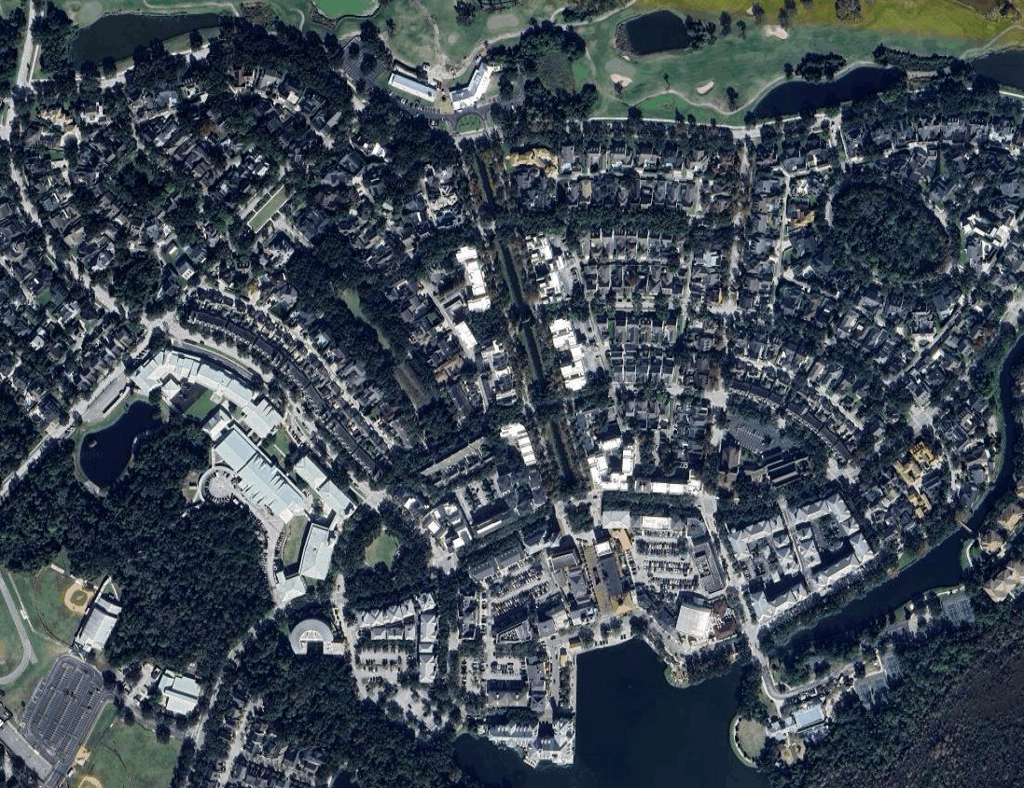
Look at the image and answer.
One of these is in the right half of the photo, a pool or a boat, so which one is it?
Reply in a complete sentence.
The feature located in the right half of the photo is a pool.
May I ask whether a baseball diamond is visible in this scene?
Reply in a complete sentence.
Yes, I can see a baseball diamond in this picture.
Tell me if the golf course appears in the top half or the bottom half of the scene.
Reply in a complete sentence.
The golf course is in the top half of the image.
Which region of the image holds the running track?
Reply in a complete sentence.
The running track sits in the bottom left section of the image.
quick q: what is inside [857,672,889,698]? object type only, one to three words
tennis court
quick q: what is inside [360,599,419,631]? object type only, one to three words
building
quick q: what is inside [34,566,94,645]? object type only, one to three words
baseball field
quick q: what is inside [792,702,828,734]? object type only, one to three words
swimming pool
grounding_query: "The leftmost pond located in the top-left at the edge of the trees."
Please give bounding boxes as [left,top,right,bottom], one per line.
[71,15,218,68]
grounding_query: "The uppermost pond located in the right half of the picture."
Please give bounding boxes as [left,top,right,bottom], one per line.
[629,12,687,52]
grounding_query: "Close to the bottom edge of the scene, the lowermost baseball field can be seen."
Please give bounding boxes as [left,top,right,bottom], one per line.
[75,720,168,788]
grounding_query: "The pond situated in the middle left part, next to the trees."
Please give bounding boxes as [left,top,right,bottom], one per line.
[82,403,160,485]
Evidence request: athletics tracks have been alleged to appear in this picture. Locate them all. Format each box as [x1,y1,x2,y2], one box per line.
[0,577,37,680]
